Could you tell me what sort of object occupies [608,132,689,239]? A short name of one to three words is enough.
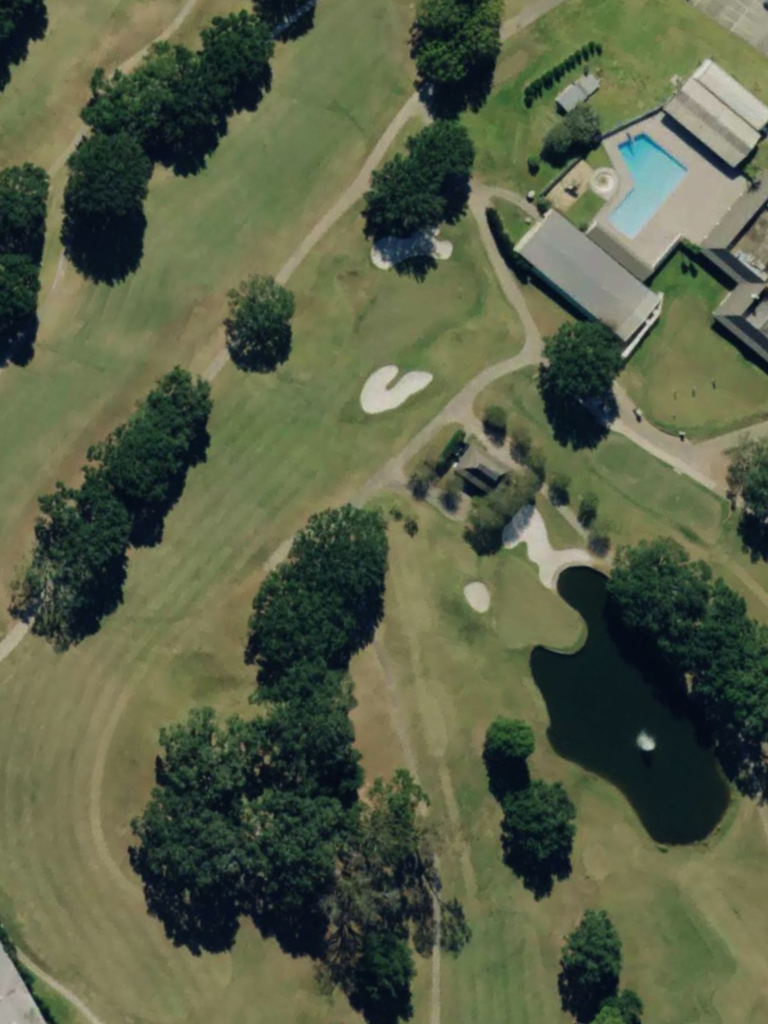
swimming pool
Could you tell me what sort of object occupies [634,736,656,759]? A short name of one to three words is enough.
fountain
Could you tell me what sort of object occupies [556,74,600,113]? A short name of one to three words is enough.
shed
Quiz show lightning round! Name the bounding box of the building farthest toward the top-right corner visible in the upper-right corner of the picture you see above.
[664,59,768,169]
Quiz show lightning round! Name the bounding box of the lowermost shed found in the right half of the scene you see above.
[456,444,510,493]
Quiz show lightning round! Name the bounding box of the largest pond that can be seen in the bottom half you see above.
[529,566,731,846]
